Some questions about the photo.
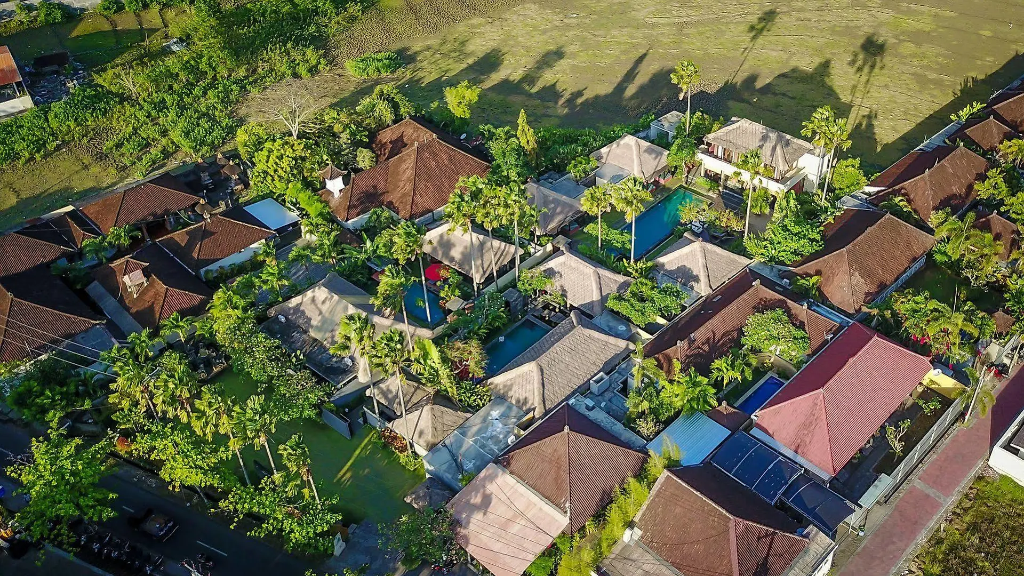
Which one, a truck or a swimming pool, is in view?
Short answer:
swimming pool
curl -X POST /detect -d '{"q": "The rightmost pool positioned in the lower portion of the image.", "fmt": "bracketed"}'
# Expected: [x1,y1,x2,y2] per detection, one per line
[735,371,788,415]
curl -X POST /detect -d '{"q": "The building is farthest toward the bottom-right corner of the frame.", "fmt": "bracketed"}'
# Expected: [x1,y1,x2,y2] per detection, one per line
[979,405,1024,490]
